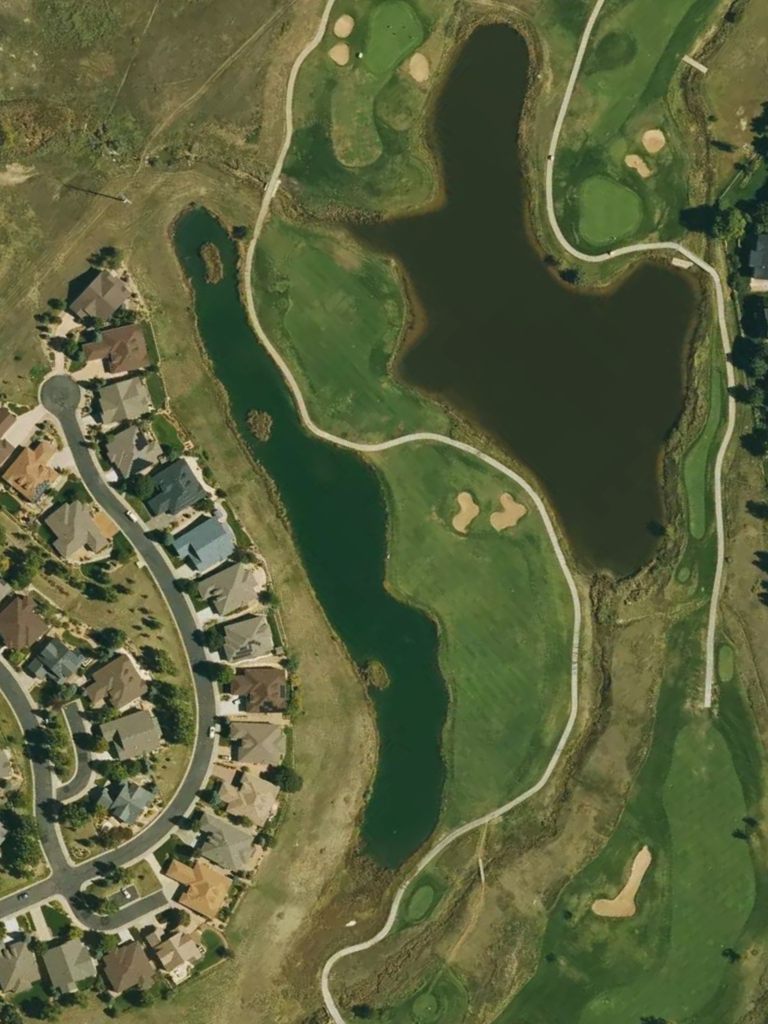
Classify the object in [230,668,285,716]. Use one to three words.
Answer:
house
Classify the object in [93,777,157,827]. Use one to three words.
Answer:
house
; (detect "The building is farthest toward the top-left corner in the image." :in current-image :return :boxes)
[71,264,130,323]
